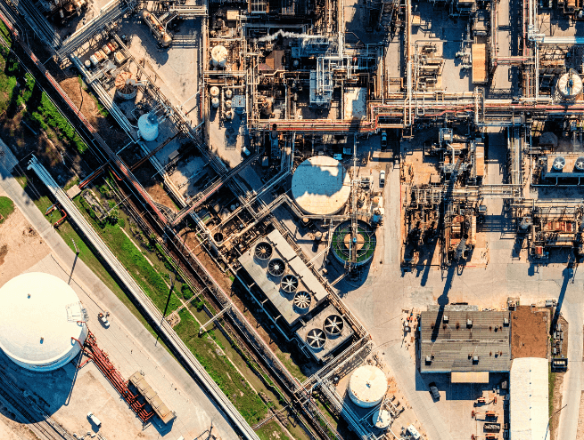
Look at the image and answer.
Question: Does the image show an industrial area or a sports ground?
industrial area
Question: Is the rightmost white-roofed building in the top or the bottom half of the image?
bottom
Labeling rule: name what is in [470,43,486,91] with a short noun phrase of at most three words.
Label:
building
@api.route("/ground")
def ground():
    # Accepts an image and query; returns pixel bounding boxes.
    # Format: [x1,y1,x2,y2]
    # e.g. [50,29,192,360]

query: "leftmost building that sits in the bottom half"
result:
[419,312,511,375]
